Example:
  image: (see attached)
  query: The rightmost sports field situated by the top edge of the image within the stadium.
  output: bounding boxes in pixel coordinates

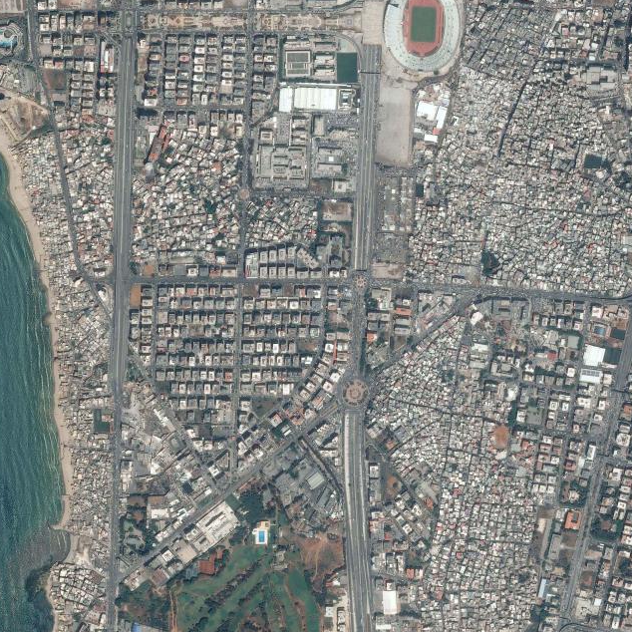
[411,6,436,41]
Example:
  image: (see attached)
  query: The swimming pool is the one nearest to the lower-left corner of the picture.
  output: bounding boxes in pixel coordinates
[256,528,269,544]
